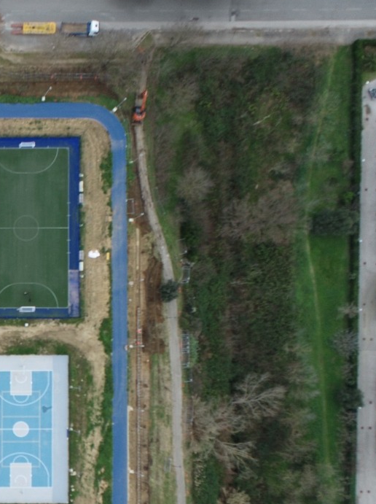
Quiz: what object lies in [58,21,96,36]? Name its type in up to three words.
vehicle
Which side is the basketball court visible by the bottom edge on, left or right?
left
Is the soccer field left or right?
left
